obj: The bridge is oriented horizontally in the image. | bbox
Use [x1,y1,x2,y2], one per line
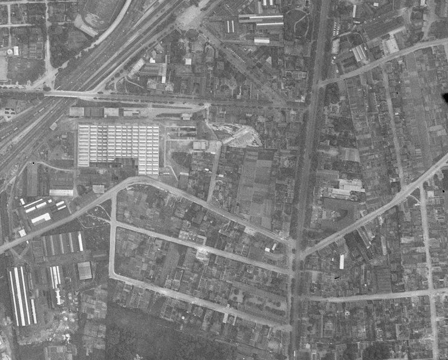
[48,89,112,101]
